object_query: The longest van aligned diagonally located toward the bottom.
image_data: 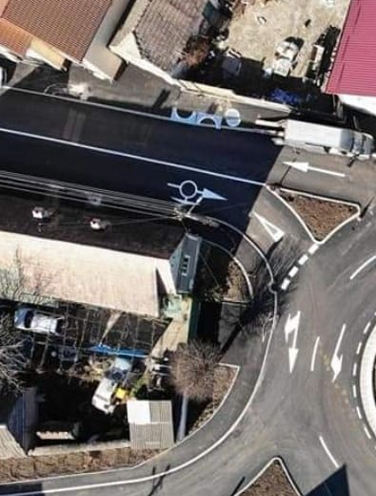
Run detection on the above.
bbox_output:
[87,355,141,415]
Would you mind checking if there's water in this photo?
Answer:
No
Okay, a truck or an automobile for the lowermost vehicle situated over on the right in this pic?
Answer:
truck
